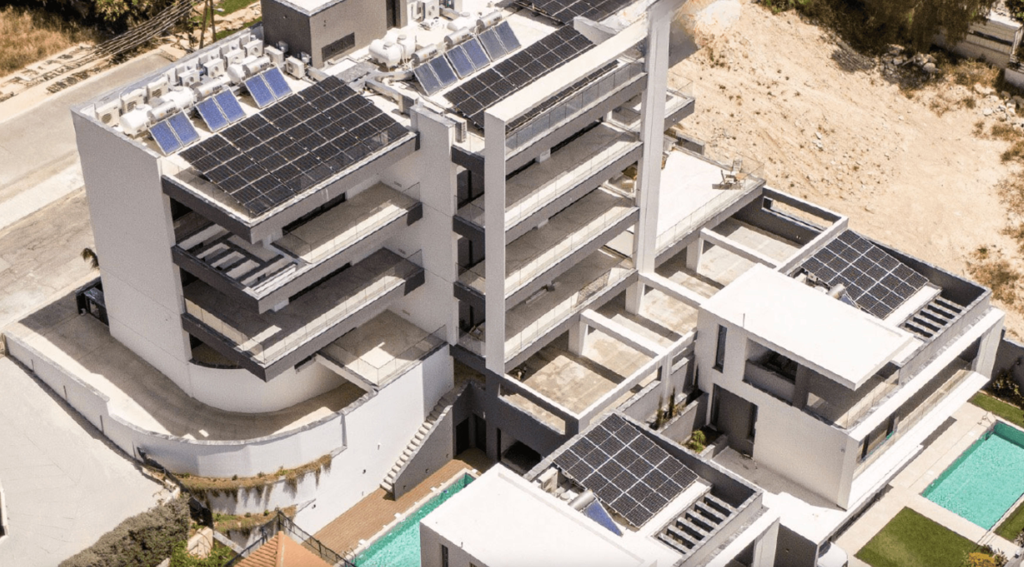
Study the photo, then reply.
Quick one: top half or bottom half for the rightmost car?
bottom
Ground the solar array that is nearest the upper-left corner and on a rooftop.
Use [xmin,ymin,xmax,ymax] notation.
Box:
[178,75,410,218]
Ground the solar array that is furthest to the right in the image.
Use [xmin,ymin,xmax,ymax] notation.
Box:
[802,230,931,320]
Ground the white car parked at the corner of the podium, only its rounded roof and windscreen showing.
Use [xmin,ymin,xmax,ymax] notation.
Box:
[816,539,858,567]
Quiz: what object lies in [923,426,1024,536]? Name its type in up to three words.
swimming pool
